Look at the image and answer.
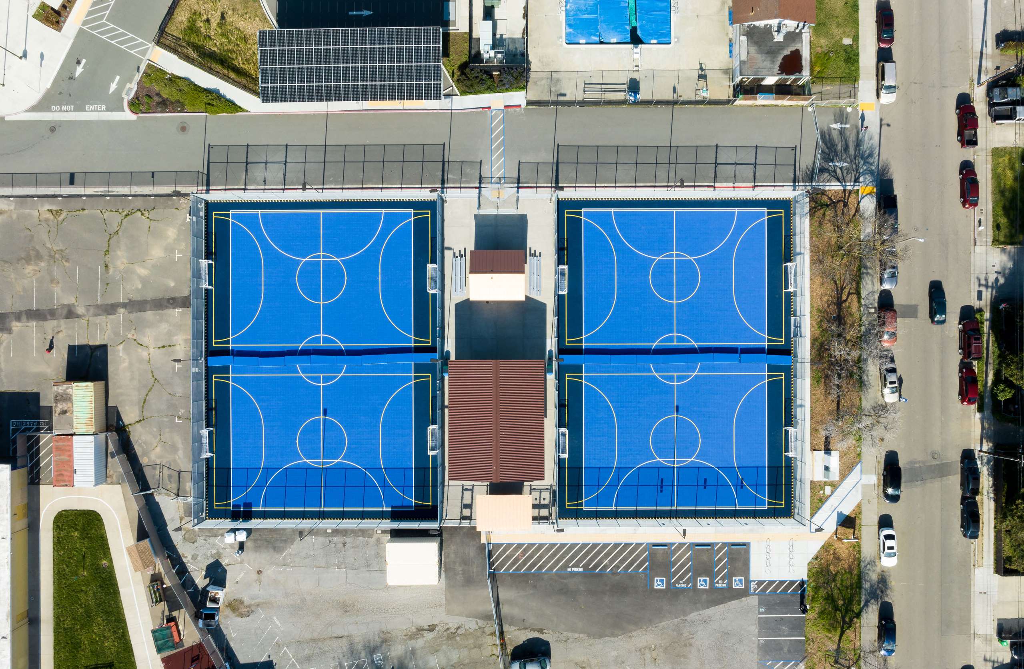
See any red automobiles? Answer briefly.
Yes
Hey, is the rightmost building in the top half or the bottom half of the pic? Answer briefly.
top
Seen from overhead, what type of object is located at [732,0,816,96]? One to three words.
building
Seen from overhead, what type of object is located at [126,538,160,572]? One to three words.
shed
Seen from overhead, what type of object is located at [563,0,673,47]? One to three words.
swimming pool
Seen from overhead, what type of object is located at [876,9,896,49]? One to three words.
car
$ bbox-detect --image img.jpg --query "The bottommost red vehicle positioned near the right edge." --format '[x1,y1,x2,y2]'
[958,368,980,405]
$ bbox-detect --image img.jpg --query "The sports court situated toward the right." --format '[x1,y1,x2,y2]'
[557,198,794,521]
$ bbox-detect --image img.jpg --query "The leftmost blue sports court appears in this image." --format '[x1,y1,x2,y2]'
[206,199,445,521]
